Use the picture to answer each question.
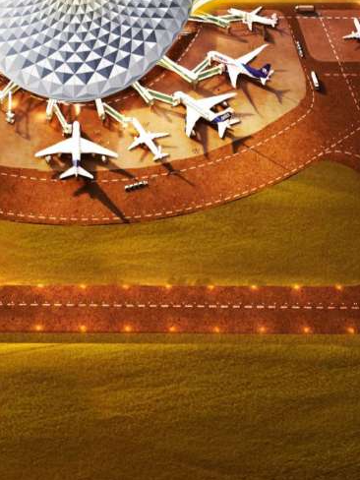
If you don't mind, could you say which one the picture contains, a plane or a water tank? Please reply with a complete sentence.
I can see a plane in this picture.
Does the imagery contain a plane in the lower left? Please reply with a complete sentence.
No, looking in the lower left, there is no plane.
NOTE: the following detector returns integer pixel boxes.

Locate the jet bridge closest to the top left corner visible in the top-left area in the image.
[0,82,17,120]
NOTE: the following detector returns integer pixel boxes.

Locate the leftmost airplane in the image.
[37,120,117,175]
